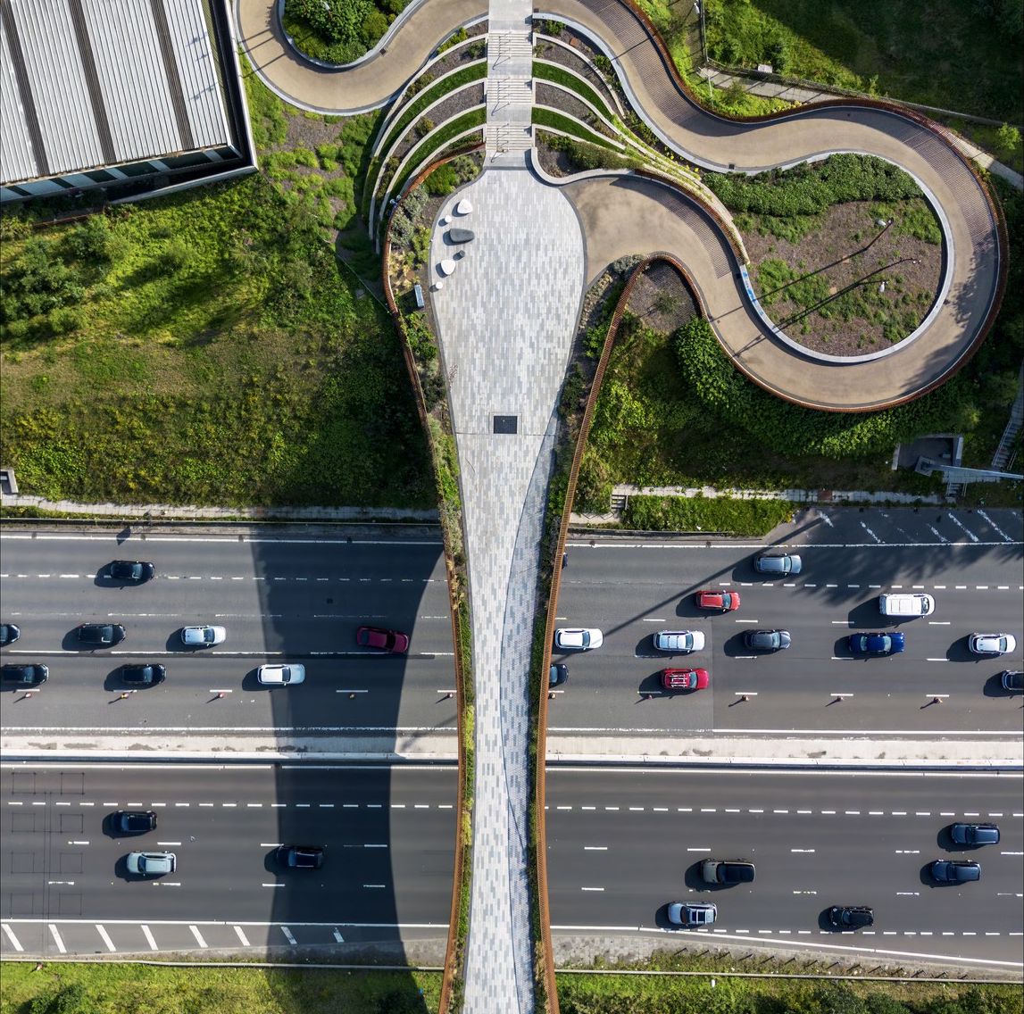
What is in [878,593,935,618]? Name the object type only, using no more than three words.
vehicle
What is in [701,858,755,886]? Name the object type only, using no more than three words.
car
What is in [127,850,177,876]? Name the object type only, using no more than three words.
car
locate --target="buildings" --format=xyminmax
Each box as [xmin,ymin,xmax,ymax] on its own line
[0,0,251,220]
